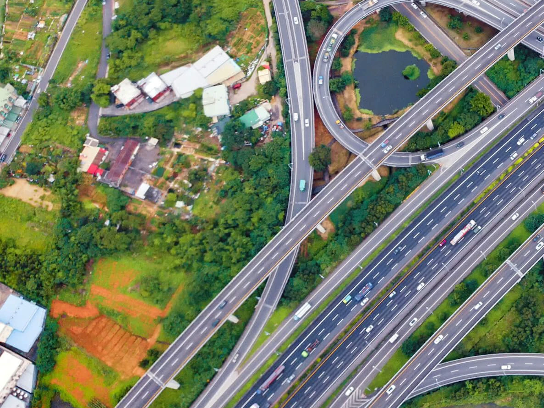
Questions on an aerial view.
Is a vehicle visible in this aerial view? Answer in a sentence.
Yes, the picture does show a vehicle.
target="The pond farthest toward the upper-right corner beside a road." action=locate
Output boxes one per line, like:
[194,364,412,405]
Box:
[352,51,435,116]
